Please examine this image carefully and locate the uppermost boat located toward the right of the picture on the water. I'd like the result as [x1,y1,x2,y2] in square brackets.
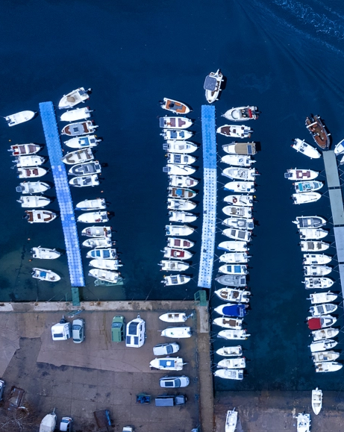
[202,65,225,105]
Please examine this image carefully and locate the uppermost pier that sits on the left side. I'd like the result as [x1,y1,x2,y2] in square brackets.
[39,100,86,287]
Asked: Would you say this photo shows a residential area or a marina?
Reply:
marina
